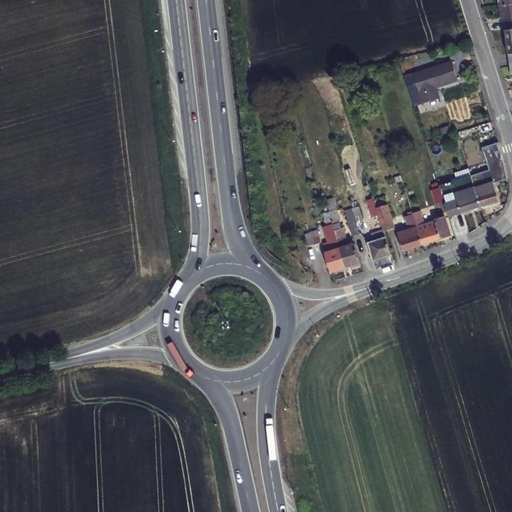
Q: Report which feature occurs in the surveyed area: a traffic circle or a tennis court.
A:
traffic circle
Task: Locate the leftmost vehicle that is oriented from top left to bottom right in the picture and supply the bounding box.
[166,341,194,378]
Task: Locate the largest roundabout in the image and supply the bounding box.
[159,253,298,392]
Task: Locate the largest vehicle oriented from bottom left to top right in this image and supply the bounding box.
[169,279,184,298]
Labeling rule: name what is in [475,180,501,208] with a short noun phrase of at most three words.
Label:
house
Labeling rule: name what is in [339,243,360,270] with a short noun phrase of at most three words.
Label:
house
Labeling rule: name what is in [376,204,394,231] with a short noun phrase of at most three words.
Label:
barn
